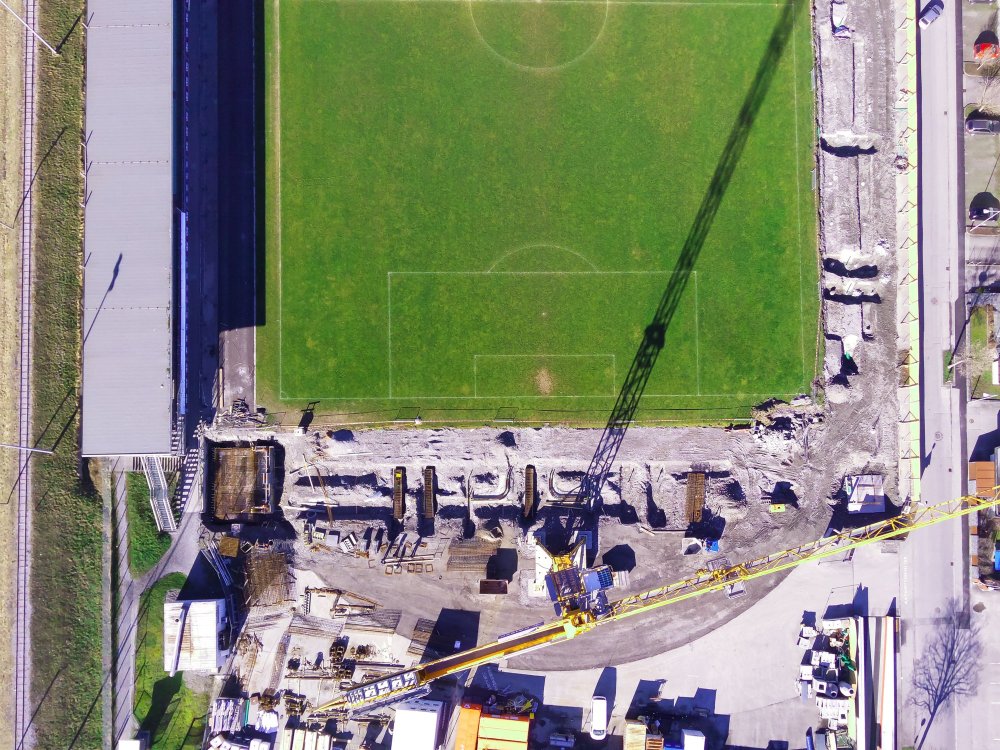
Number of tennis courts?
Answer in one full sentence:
The picture shows no tennis courts.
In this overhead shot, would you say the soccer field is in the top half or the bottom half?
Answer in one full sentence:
The soccer field is in the top half of the image.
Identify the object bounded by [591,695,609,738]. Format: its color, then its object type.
white vehicle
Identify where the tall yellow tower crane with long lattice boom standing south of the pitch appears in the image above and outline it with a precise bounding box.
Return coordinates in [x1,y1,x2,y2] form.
[299,480,1000,724]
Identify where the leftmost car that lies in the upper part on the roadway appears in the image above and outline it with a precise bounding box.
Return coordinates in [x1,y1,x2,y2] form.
[917,0,944,29]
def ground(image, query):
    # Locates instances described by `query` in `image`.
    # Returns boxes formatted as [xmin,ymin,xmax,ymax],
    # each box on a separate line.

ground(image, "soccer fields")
[255,0,823,429]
